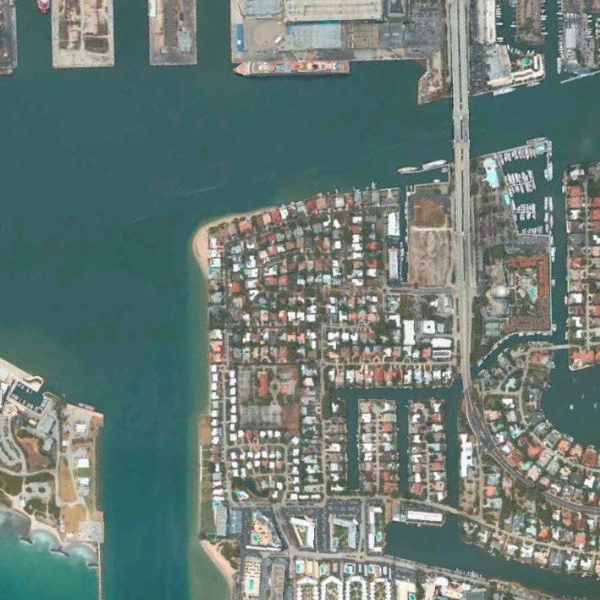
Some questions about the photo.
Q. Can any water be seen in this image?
Yes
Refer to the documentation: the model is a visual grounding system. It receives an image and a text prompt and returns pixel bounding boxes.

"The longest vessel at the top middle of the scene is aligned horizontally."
[235,60,350,75]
